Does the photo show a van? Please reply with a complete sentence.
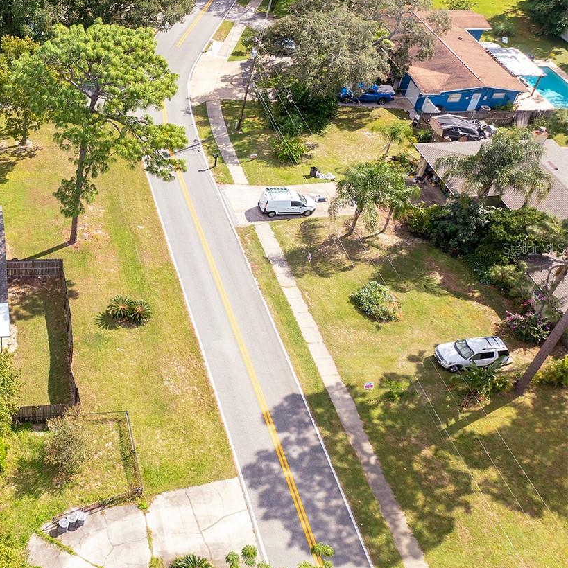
Yes, this view includes a van.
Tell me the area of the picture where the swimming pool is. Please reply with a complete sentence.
You can find the swimming pool in the top right area of the picture.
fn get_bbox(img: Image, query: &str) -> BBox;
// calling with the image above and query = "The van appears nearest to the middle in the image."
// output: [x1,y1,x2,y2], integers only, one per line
[258,188,319,218]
